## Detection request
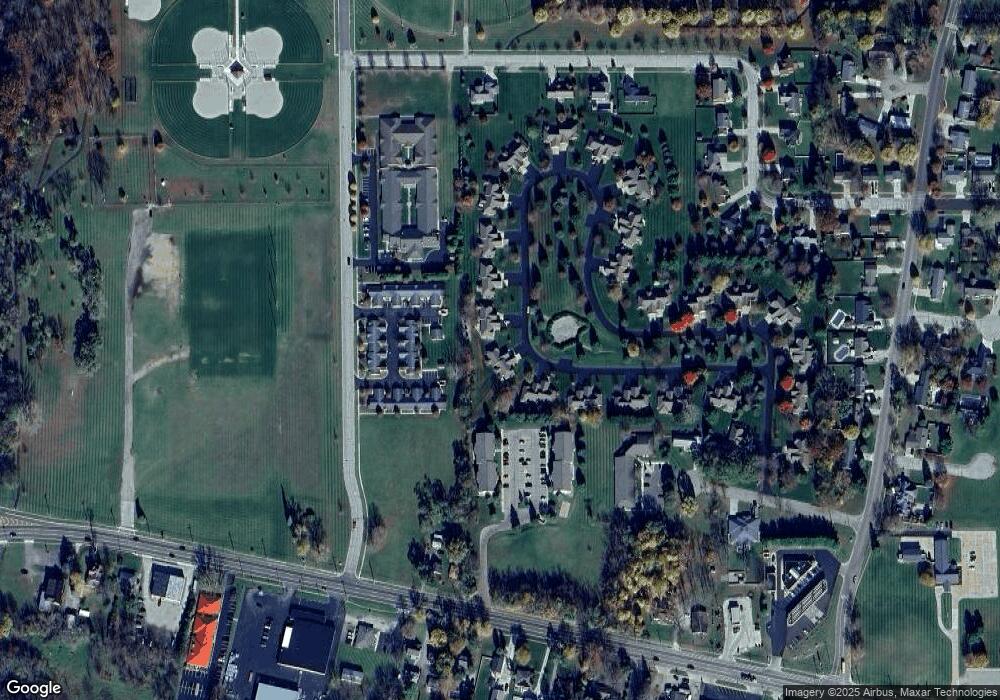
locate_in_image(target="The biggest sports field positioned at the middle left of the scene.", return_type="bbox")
[189,228,276,377]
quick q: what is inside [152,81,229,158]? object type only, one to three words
baseball field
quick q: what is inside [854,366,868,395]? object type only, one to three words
house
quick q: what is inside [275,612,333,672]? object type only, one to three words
building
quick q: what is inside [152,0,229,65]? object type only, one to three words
baseball field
